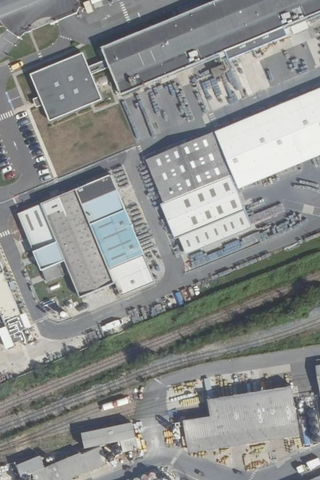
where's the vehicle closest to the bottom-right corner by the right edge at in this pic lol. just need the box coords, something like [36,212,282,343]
[297,458,320,474]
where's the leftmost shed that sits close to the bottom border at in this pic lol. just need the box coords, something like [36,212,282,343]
[16,455,45,478]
